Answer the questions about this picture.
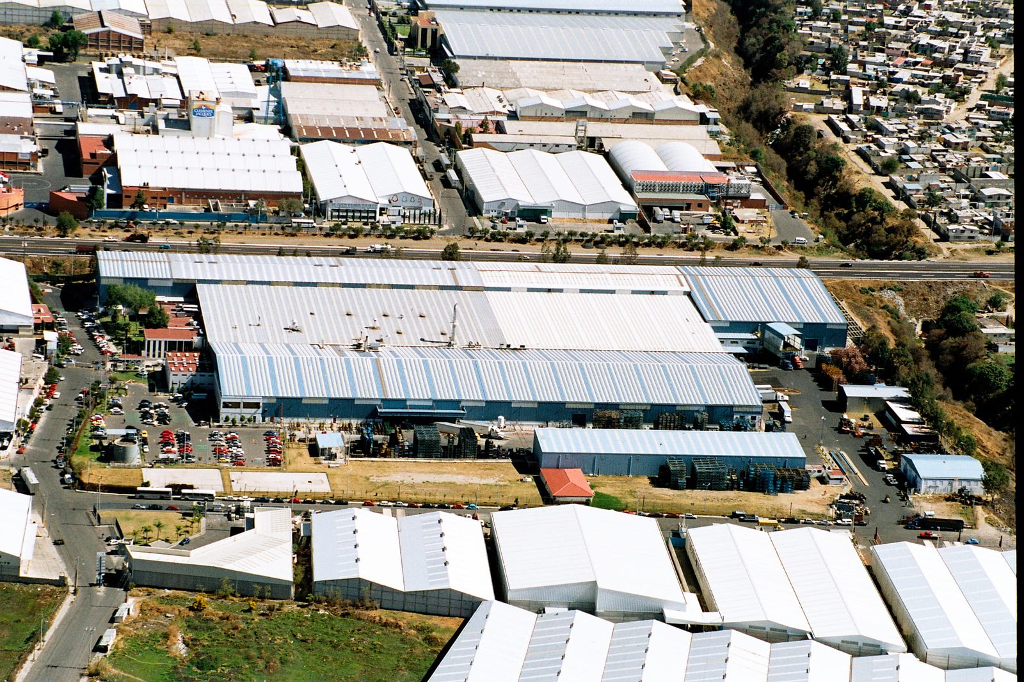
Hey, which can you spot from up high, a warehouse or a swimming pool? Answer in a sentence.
I can see a warehouse in this picture.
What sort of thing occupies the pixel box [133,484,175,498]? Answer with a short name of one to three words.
vehicle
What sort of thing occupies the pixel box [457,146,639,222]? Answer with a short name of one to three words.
building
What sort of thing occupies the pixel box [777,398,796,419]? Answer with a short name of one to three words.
vehicle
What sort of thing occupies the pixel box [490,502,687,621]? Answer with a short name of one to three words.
warehouse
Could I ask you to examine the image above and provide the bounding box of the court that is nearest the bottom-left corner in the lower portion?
[143,468,224,491]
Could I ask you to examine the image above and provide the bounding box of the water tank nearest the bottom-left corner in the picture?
[114,440,139,464]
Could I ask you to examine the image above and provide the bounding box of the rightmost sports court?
[230,472,331,492]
